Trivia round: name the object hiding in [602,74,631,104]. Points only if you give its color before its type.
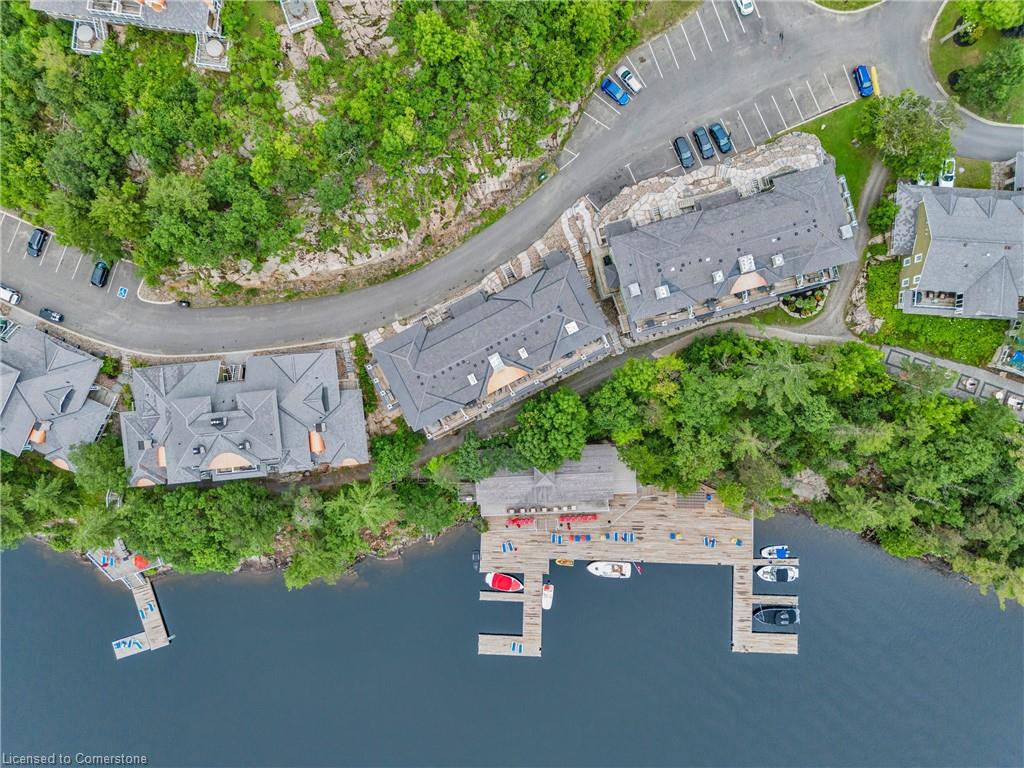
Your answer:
blue car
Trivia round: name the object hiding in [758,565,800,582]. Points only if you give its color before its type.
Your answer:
white boat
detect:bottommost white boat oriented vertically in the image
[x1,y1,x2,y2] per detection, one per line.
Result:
[542,582,554,611]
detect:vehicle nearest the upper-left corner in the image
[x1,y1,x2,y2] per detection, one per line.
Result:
[22,225,47,258]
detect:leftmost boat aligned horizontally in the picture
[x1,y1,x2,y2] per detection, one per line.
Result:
[481,573,523,592]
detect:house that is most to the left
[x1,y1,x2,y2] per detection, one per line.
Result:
[0,311,120,472]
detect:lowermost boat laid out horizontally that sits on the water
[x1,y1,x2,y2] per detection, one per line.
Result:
[752,610,800,626]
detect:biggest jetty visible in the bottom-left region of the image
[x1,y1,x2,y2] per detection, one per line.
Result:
[112,577,172,660]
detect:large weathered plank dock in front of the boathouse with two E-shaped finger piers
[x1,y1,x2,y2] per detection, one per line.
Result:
[477,484,799,657]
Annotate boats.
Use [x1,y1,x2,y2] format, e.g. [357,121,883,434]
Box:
[473,551,480,571]
[758,565,800,582]
[752,610,800,626]
[542,582,554,611]
[556,560,574,566]
[587,563,646,579]
[481,573,523,592]
[763,546,795,558]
